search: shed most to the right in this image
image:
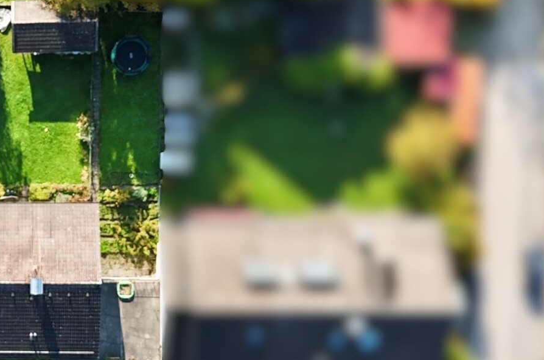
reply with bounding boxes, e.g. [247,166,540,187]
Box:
[443,61,481,146]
